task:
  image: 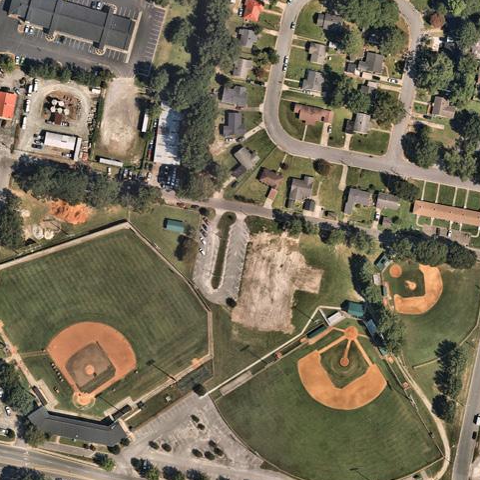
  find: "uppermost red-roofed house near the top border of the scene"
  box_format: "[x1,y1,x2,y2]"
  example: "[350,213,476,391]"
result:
[240,0,264,22]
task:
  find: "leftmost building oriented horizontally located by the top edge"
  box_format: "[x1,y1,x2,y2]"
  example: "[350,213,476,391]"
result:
[7,0,133,50]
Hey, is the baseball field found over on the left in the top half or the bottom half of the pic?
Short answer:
bottom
